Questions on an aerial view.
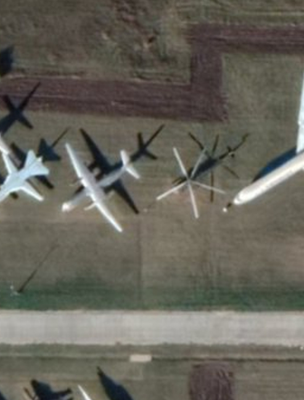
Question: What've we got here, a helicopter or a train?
helicopter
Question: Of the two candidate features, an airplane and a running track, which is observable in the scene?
airplane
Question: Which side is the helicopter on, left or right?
right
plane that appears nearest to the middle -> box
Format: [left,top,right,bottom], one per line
[63,144,139,231]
